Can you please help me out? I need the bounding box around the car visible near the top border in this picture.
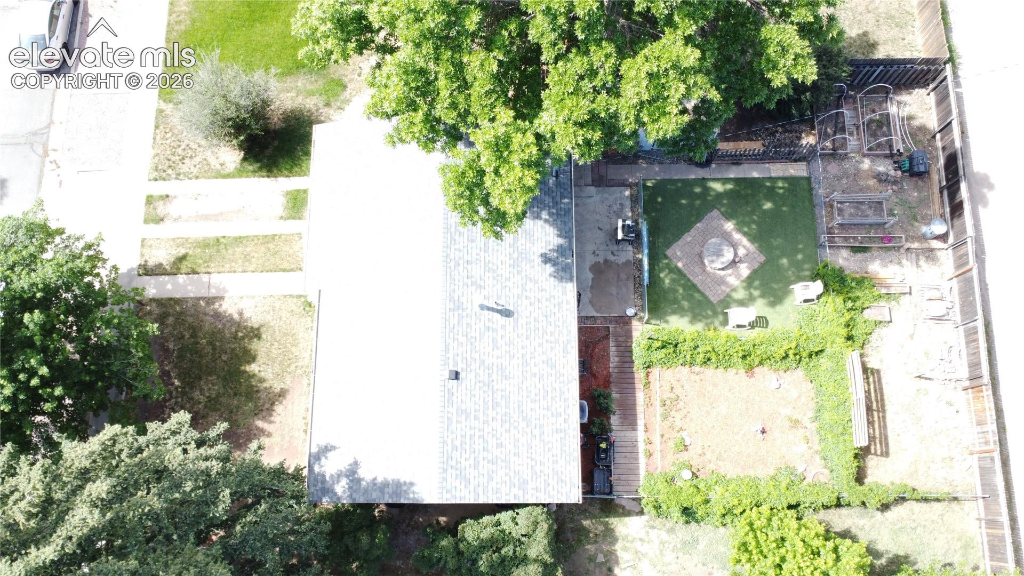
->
[14,0,74,71]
